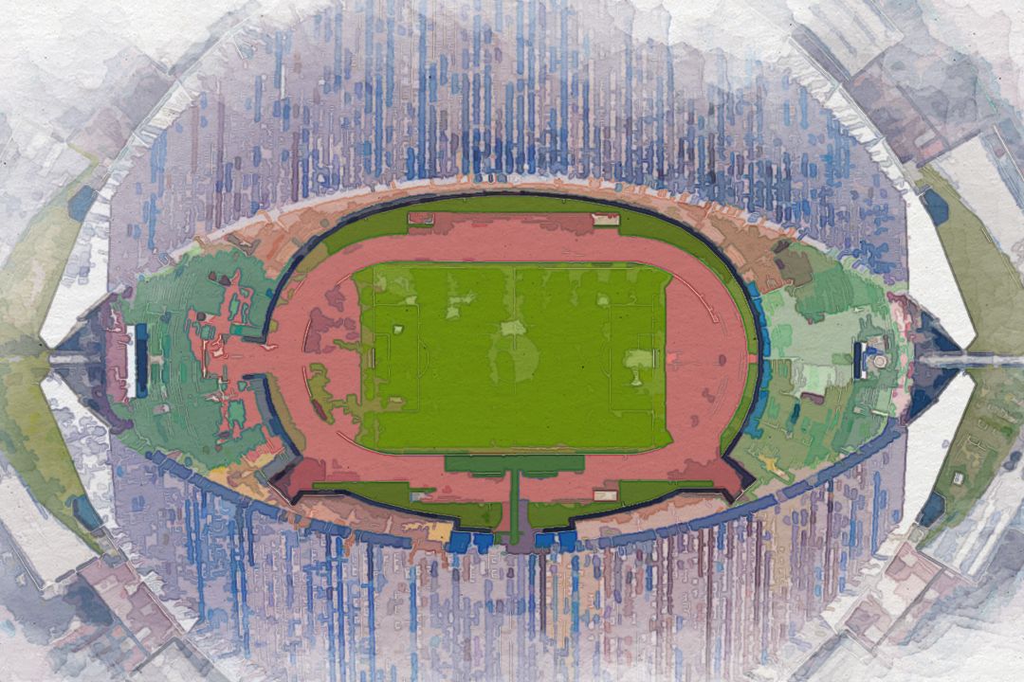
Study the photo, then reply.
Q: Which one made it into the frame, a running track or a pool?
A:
running track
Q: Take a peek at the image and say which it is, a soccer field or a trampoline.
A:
soccer field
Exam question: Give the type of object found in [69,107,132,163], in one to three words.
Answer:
building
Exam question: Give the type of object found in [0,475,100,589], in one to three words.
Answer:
building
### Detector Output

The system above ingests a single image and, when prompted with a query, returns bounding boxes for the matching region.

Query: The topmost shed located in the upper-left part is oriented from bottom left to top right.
[168,1,266,79]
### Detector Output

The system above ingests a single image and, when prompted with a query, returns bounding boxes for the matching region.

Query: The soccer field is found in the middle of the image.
[351,260,675,454]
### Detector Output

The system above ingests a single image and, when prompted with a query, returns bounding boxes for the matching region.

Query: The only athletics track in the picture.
[262,203,757,543]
